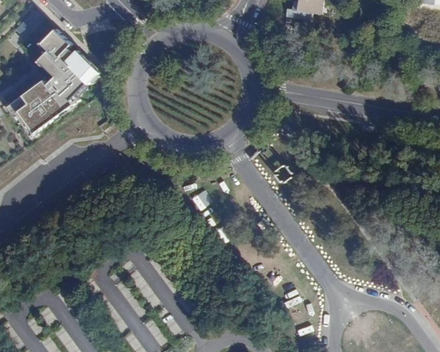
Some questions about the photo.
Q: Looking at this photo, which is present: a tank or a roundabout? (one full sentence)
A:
Visible in the photo is a roundabout.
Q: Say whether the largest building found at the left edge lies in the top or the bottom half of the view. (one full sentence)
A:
Seen from above, the largest building found at the left edge lies in the top half of the view.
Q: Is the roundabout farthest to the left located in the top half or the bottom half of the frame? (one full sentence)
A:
The top half of the photo is where the roundabout farthest to the left is.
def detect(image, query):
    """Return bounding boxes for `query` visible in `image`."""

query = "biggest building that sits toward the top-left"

[14,28,104,136]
